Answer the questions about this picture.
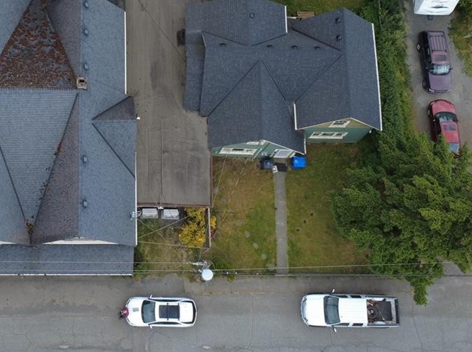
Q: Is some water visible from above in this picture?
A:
No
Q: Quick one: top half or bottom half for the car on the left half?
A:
bottom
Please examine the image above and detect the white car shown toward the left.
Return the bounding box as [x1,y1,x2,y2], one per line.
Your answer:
[124,294,197,332]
